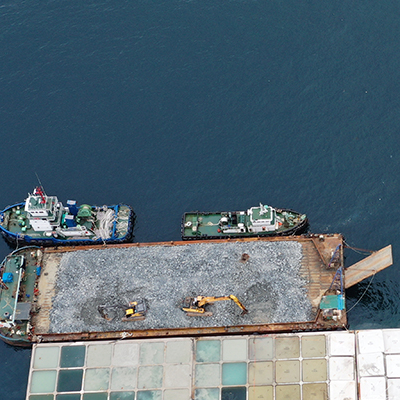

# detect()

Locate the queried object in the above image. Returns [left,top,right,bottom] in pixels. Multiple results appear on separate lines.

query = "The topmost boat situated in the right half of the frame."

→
[180,202,309,240]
